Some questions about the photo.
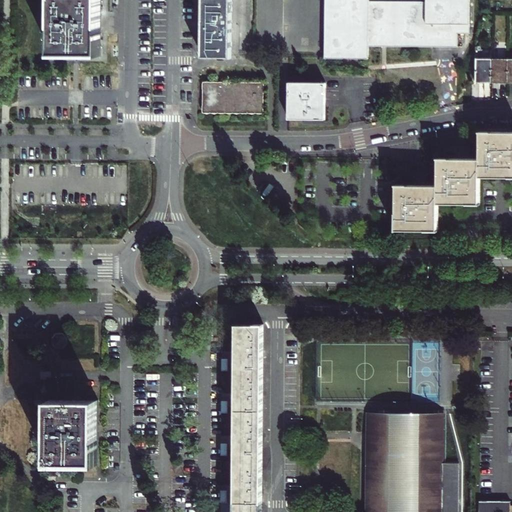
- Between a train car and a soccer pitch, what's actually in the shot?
soccer pitch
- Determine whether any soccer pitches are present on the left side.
No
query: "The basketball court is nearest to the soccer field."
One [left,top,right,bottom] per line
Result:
[412,341,440,404]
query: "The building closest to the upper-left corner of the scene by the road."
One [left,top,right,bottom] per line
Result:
[41,0,100,60]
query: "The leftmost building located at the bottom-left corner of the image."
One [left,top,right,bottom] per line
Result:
[37,401,98,472]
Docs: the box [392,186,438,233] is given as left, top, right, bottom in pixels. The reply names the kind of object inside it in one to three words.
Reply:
building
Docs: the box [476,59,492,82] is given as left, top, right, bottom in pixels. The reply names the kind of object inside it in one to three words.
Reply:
house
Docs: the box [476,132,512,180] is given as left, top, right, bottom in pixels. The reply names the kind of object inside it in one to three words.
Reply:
building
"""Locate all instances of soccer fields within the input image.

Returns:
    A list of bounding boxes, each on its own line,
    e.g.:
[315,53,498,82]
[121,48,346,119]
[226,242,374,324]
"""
[316,340,411,402]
